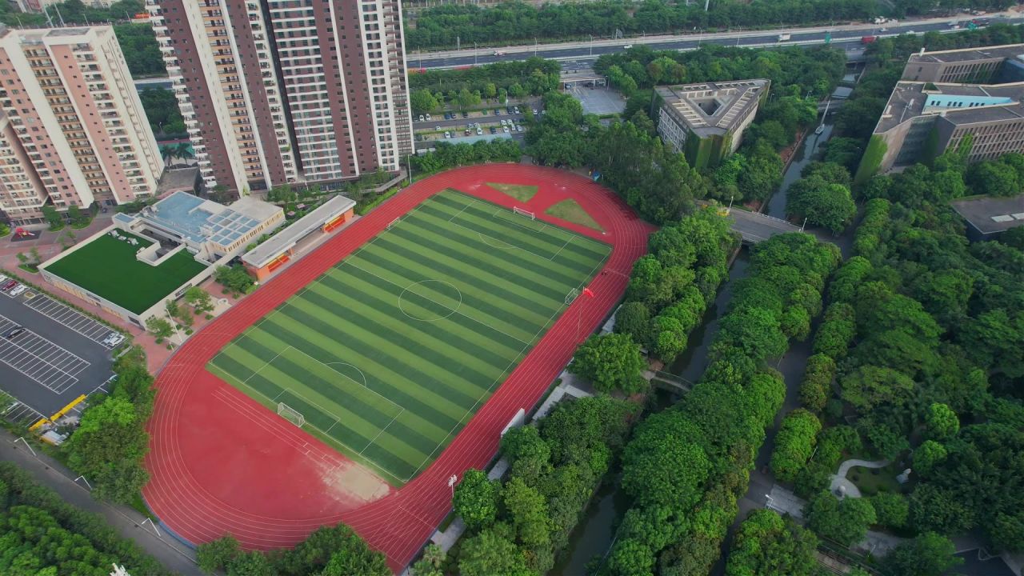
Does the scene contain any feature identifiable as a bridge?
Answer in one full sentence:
Yes, there's a bridge down there.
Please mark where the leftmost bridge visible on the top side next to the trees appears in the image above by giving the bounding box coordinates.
[737,209,790,245]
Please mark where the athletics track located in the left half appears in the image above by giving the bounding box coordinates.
[137,161,653,576]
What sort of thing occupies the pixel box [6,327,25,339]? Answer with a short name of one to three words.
vehicle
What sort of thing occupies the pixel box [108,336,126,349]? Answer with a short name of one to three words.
vehicle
